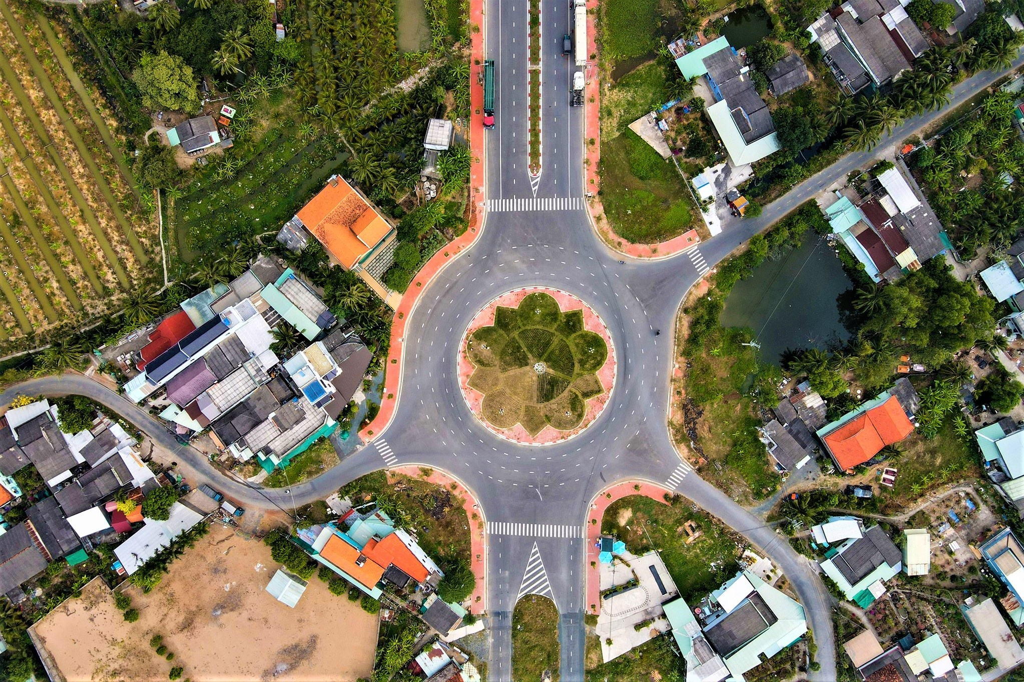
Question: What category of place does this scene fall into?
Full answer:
It's a residential area.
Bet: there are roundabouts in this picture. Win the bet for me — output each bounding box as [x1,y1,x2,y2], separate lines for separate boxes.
[459,287,616,444]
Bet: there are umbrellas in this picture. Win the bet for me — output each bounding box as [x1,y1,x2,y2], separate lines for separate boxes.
[599,552,612,564]
[613,541,625,554]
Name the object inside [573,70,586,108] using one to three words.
vehicle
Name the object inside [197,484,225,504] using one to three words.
vehicle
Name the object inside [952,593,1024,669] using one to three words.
building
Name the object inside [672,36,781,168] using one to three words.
house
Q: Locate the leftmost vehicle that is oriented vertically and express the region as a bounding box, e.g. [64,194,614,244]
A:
[482,58,496,130]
